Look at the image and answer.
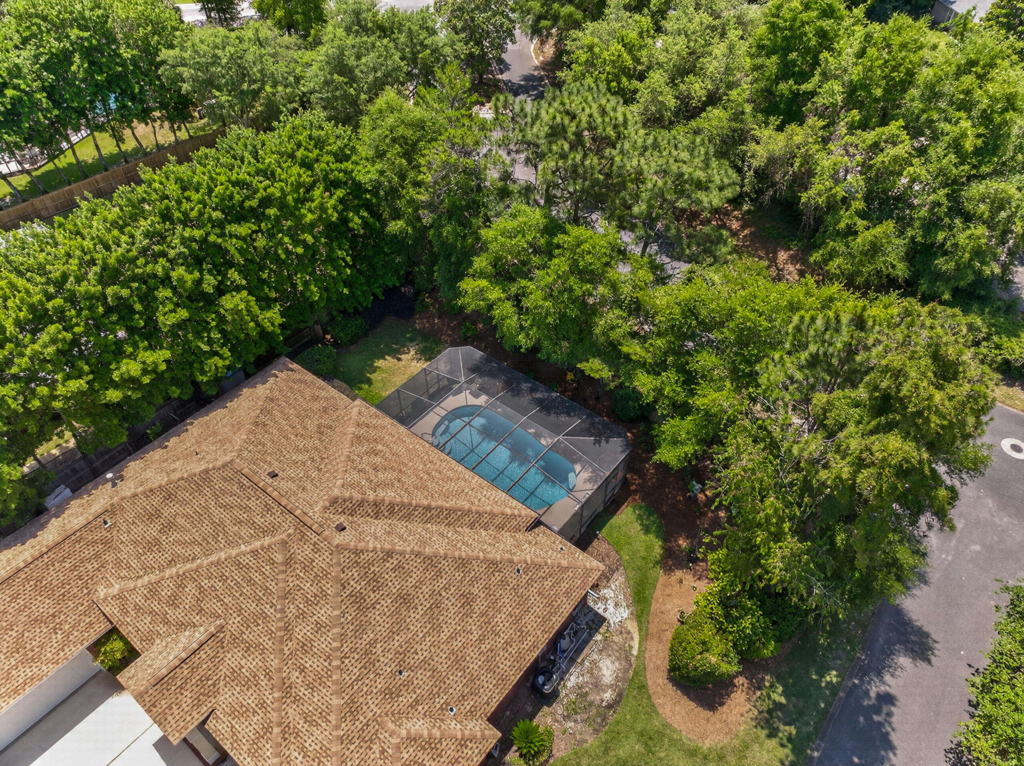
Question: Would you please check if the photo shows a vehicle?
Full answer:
No, there's no vehicle here.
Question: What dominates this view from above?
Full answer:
For the most part, this view shows trees.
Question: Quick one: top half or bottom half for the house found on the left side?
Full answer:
The bottom half of the photo is where the house found on the left side is.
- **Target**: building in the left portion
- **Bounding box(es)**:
[0,356,607,766]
